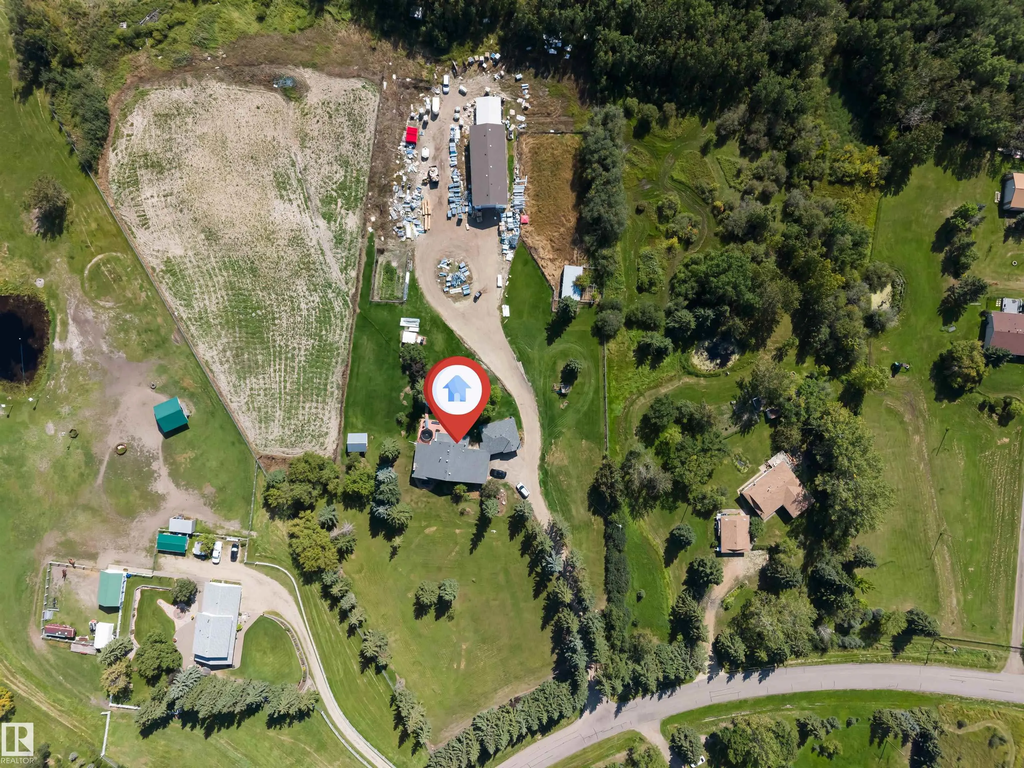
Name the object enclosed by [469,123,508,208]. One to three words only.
shed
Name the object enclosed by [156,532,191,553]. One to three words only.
shed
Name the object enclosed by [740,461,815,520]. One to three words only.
house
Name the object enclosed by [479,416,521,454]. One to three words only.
building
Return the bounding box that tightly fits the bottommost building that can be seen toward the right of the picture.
[719,515,750,553]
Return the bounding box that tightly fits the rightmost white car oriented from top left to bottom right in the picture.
[517,482,530,498]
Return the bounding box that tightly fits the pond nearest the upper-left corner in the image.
[0,295,51,384]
